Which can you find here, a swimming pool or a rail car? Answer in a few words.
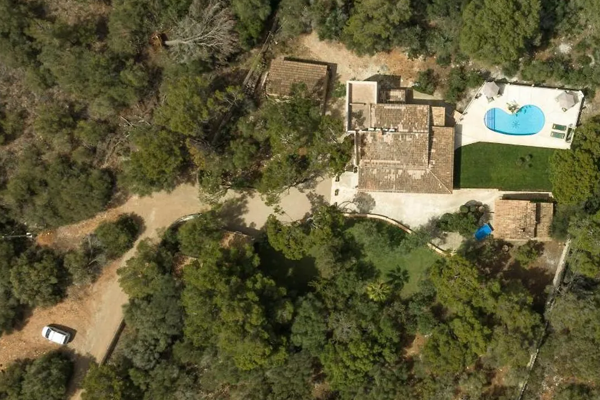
swimming pool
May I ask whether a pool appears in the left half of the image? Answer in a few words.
No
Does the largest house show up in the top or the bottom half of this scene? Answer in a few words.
top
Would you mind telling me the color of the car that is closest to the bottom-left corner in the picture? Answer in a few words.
white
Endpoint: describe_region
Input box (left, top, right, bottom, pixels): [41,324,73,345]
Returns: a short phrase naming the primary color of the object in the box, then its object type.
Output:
white car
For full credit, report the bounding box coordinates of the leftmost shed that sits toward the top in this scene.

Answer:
[266,58,330,102]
